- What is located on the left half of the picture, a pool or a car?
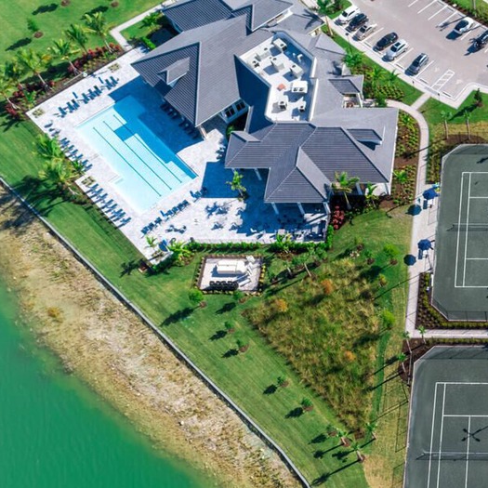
pool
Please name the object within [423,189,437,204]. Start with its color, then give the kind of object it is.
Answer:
blue umbrella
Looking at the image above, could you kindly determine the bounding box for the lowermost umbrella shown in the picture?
[417,239,432,254]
